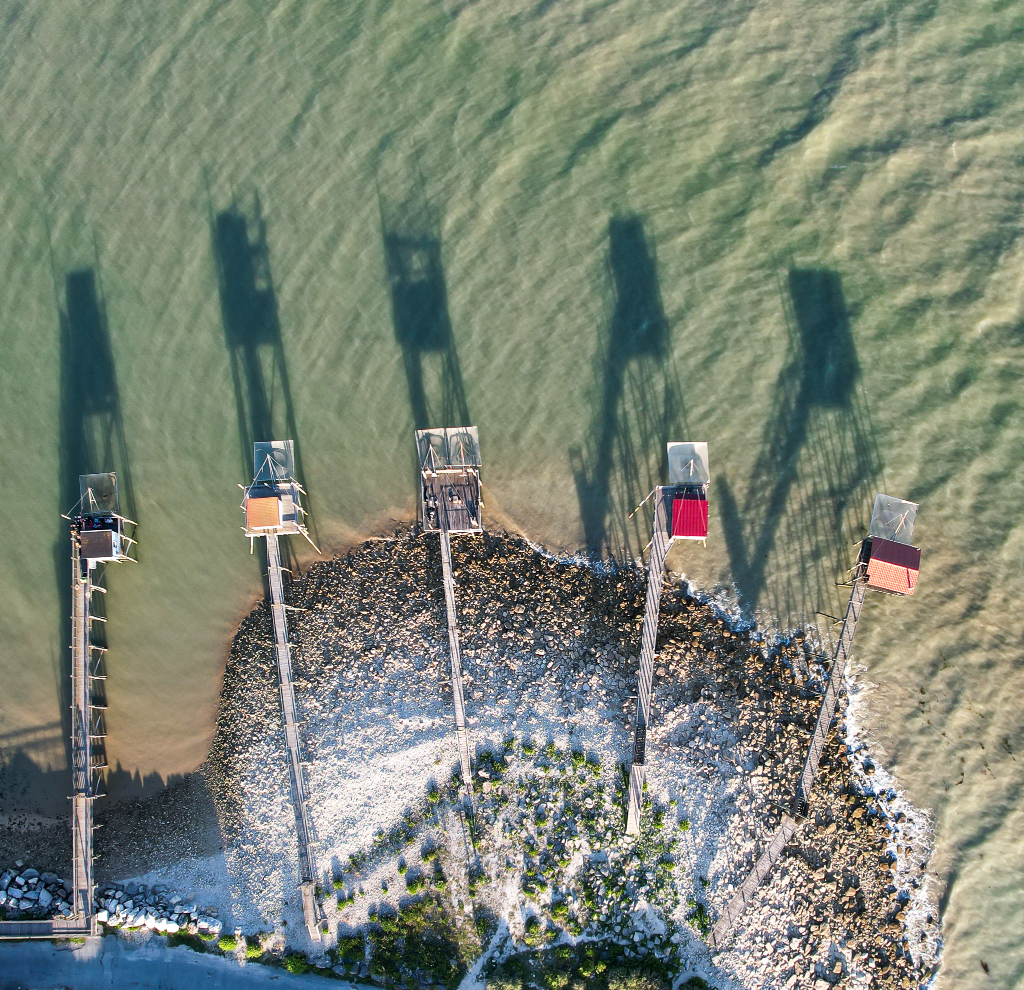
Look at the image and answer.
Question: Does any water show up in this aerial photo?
Yes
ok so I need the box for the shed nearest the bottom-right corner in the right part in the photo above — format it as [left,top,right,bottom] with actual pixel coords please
[862,535,921,595]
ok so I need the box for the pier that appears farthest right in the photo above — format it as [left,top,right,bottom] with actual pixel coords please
[706,534,929,948]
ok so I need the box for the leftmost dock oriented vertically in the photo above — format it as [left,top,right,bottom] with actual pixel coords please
[60,513,140,938]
